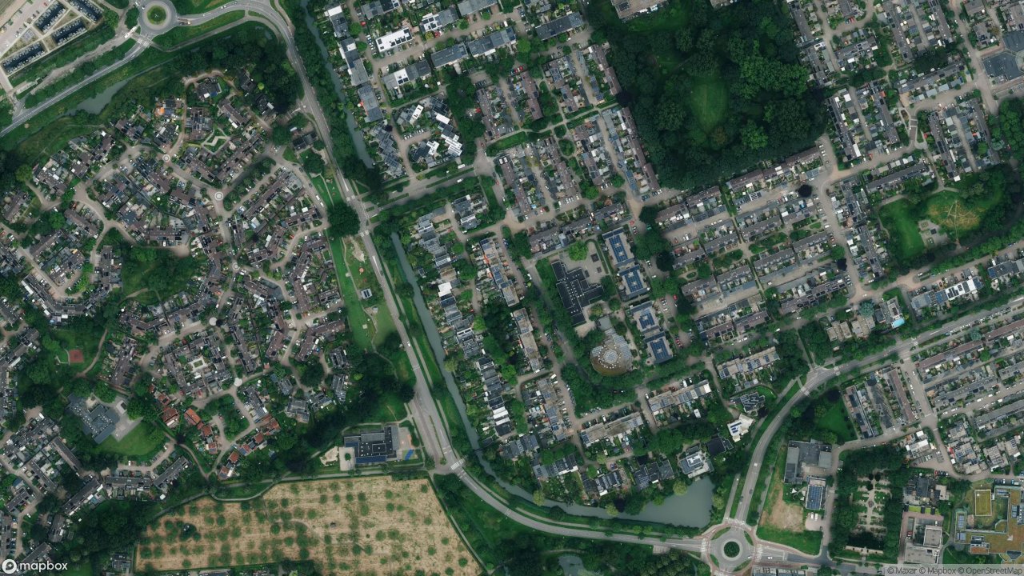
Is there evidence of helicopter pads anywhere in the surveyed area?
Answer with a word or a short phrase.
No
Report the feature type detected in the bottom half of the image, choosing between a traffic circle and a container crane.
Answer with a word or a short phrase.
traffic circle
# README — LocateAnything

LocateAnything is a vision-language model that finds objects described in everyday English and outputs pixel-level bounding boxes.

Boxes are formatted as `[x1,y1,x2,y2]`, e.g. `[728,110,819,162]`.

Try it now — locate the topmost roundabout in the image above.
[134,0,179,37]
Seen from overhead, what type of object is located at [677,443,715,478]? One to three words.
house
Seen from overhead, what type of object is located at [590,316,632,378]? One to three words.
building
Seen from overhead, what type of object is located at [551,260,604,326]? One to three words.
building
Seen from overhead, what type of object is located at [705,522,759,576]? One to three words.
roundabout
